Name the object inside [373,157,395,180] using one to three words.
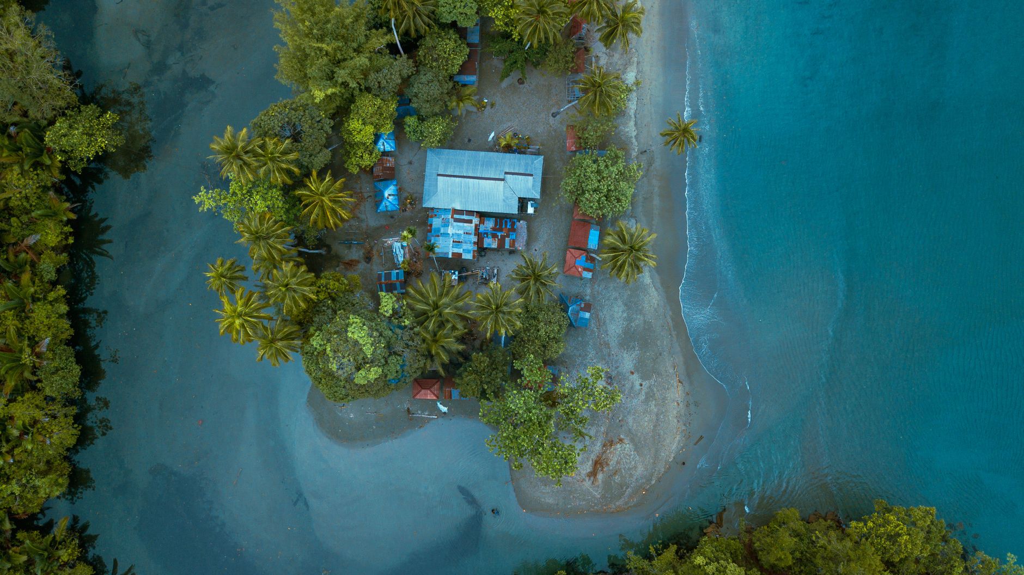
shed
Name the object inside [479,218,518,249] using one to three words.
house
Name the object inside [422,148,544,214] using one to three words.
house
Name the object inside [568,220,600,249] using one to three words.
shed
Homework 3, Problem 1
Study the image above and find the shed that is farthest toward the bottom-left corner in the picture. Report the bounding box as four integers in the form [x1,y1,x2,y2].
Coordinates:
[412,378,440,400]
